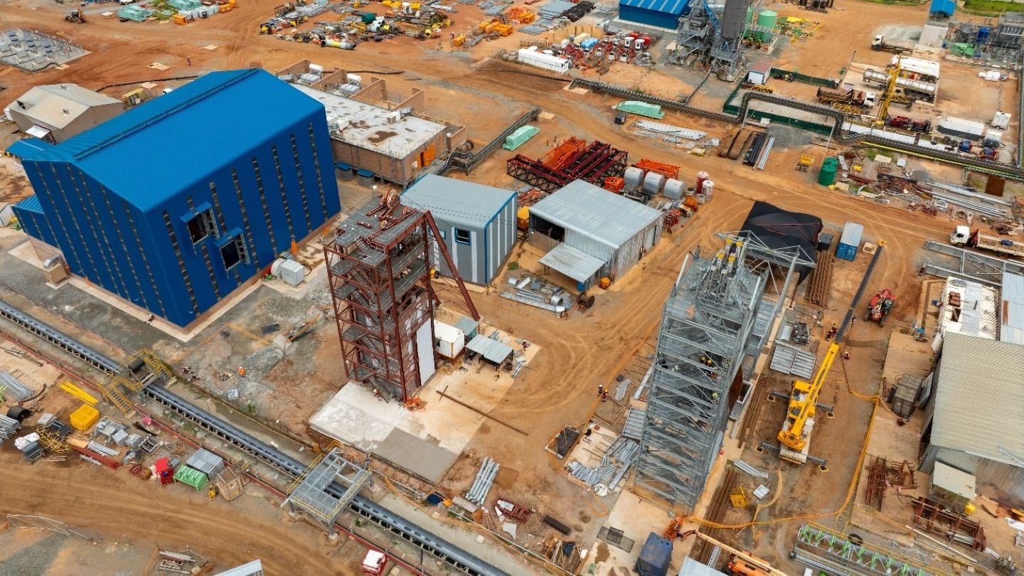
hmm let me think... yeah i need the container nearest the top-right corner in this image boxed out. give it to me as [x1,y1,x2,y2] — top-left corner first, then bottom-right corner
[838,217,864,257]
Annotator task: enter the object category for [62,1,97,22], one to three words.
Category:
work vehicle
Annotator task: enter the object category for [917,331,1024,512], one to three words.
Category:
shed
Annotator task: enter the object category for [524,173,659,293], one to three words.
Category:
building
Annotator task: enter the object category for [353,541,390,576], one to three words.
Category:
truck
